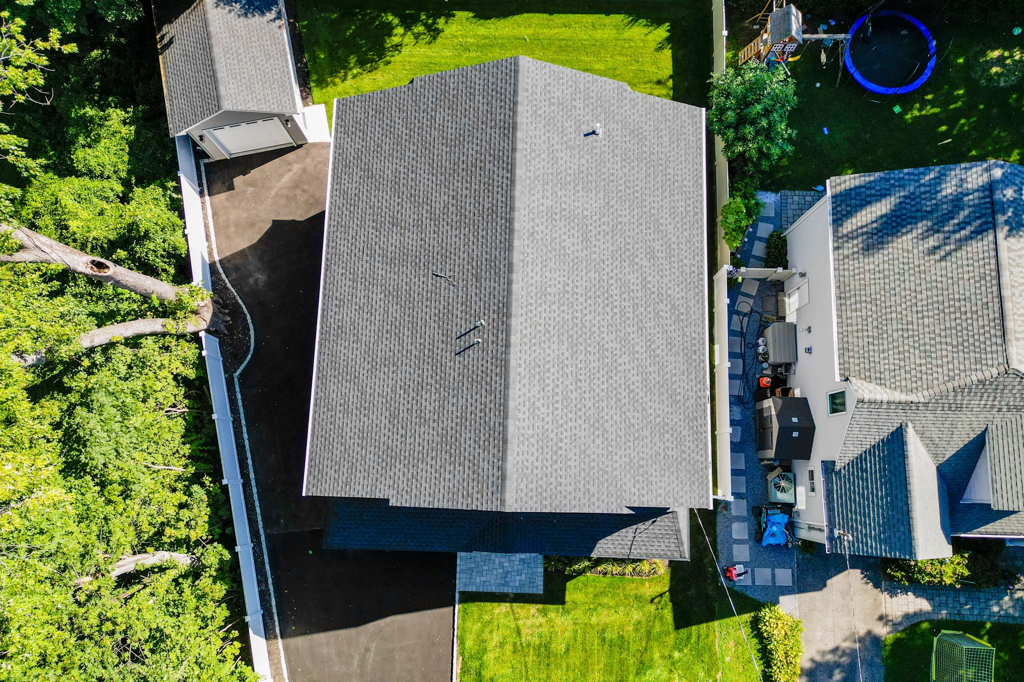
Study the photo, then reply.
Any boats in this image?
No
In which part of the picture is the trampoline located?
top right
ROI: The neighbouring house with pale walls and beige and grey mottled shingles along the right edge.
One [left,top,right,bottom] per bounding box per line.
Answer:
[779,162,1024,559]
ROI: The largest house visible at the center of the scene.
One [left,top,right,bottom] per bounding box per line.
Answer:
[293,54,716,516]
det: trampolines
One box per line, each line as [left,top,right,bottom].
[841,0,952,102]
